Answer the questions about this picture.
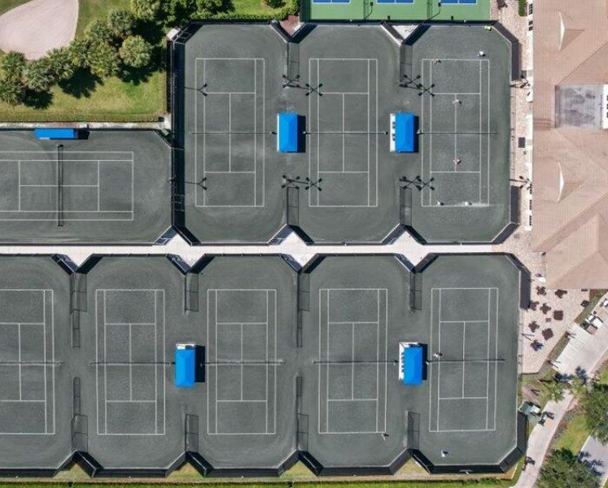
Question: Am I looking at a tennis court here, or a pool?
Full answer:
I can see a tennis court in this picture.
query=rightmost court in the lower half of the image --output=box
[409,256,520,464]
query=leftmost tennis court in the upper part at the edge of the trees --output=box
[0,130,172,243]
